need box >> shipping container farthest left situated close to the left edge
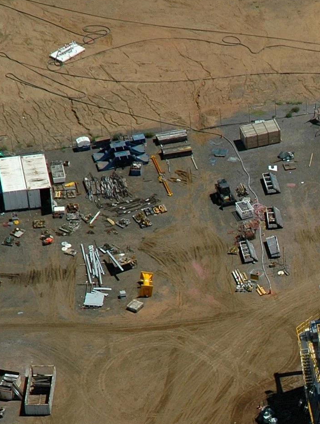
[0,155,29,210]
